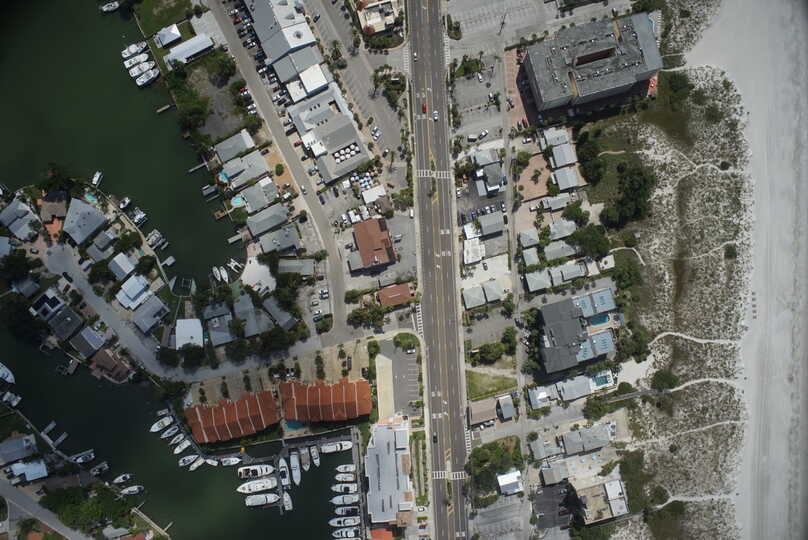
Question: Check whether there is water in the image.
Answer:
Yes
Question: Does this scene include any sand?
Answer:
Yes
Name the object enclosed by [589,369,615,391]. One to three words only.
swimming pool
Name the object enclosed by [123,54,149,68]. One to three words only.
boat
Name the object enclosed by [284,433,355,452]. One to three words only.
pier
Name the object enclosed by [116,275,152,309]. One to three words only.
house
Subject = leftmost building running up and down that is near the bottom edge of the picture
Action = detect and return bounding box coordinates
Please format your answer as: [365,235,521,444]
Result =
[367,422,413,527]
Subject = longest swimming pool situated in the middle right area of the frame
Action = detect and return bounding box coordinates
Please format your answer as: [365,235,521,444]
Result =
[583,312,624,335]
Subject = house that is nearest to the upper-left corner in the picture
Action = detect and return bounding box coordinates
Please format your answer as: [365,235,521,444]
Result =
[155,24,182,50]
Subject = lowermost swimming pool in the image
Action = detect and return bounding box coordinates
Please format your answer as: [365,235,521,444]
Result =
[282,420,315,436]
